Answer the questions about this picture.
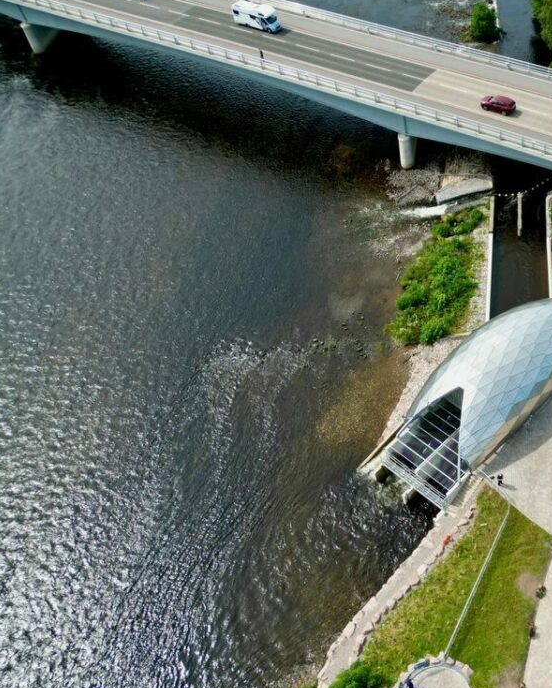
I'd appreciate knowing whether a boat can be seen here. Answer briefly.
No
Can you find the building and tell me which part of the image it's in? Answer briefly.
right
